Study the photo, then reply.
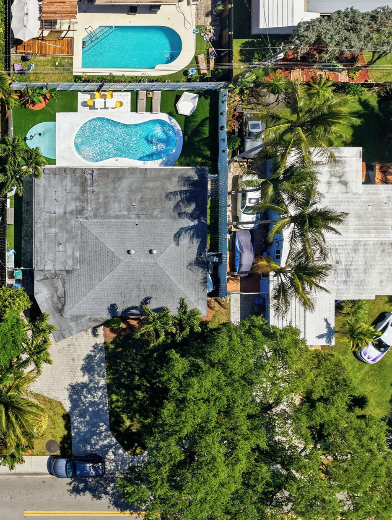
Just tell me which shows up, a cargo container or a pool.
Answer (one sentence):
Visible in the photo is a pool.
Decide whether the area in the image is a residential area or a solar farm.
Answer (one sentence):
It's a residential area.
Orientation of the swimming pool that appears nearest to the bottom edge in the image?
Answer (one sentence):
The swimming pool that appears nearest to the bottom edge has been laid out from left to right relative to the frame.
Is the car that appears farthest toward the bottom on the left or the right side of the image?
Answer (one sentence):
The car that appears farthest toward the bottom appears in the left half of the scene.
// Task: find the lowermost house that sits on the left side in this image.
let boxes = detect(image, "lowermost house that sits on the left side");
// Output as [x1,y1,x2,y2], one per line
[33,166,209,341]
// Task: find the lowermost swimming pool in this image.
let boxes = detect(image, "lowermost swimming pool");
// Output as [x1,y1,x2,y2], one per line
[73,115,178,163]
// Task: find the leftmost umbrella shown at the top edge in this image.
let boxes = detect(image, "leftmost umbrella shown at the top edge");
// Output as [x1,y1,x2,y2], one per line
[19,0,45,29]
